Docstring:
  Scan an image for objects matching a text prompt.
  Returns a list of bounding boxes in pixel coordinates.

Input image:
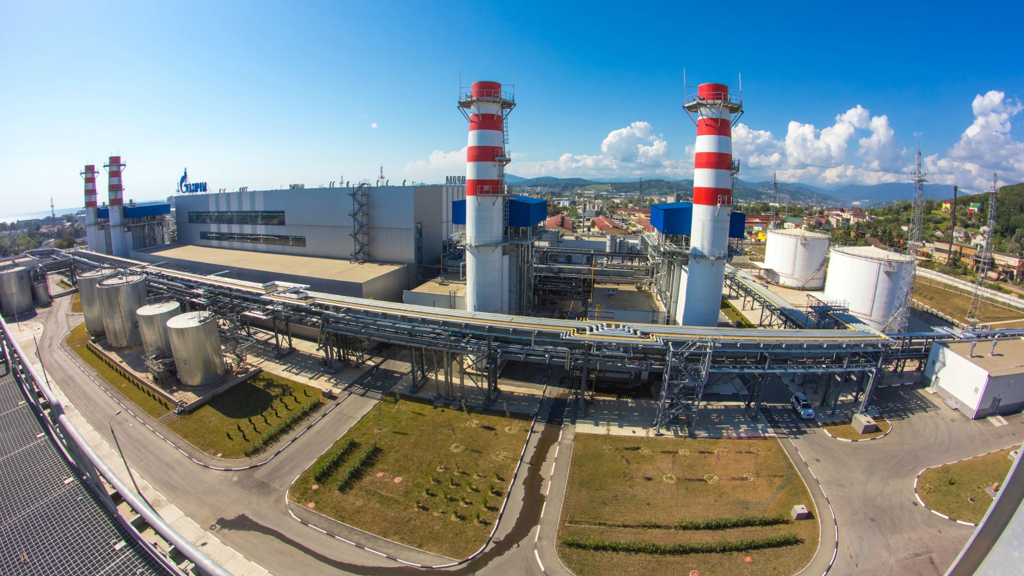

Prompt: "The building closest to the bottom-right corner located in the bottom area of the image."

[921,335,1024,424]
